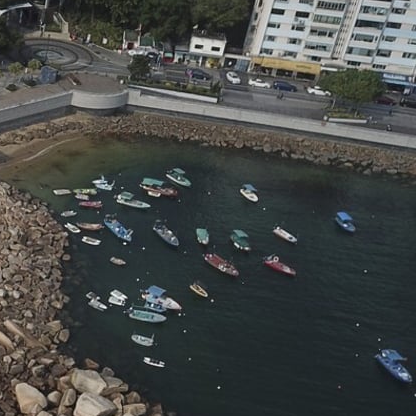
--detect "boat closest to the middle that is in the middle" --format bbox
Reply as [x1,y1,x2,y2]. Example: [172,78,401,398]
[194,223,211,243]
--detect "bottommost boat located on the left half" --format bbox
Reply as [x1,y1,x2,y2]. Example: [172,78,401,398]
[143,355,166,367]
